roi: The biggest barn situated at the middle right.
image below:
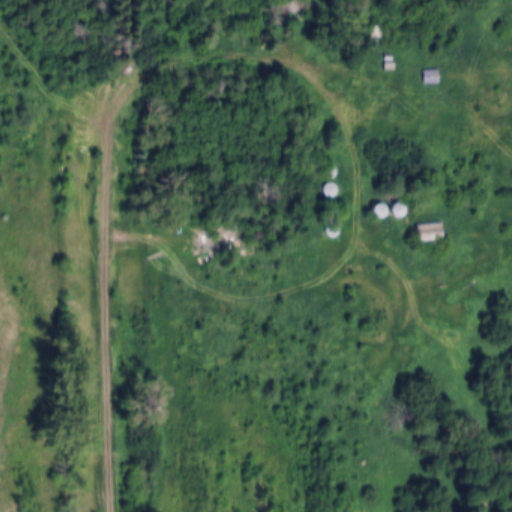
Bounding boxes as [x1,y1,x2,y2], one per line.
[418,222,444,241]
